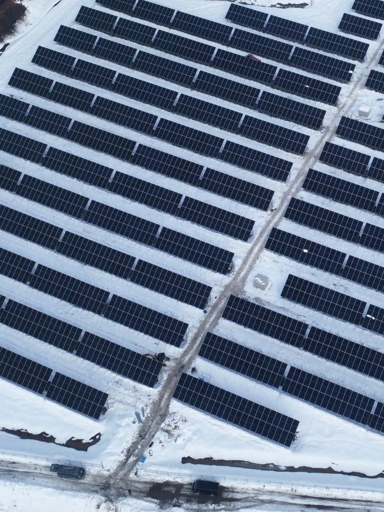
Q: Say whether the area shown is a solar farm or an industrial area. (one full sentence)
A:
It's a solar farm.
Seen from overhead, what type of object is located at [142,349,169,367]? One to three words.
work vehicle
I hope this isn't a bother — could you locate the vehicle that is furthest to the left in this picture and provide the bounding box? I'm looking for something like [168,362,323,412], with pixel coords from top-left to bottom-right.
[47,462,84,479]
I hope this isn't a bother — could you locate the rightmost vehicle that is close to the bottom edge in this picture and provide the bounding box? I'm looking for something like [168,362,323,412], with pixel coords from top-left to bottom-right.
[190,480,219,495]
